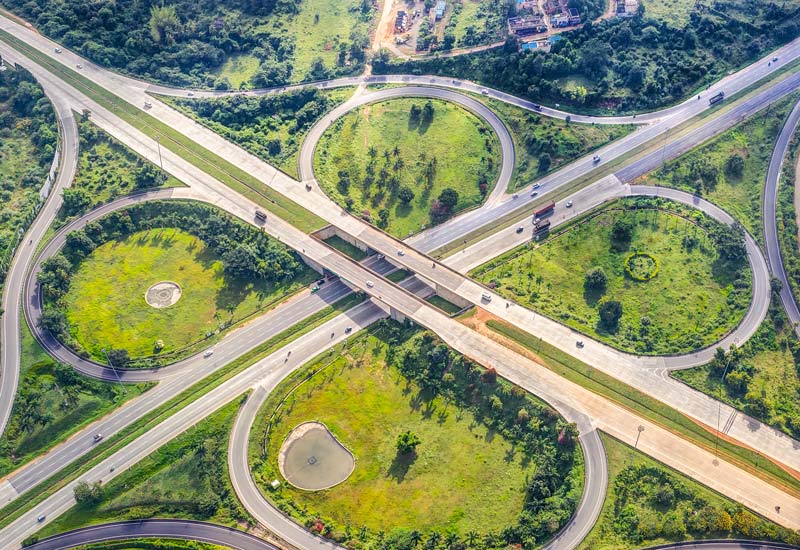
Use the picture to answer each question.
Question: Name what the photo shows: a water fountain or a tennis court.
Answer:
water fountain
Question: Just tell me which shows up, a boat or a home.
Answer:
home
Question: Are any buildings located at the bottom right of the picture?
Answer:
No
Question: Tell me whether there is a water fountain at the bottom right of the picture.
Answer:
No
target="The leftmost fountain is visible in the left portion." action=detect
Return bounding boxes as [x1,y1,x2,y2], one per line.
[143,277,182,308]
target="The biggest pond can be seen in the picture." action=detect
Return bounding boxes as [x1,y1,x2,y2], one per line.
[277,420,355,492]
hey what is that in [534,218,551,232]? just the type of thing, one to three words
vehicle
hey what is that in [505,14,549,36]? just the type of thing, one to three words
house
